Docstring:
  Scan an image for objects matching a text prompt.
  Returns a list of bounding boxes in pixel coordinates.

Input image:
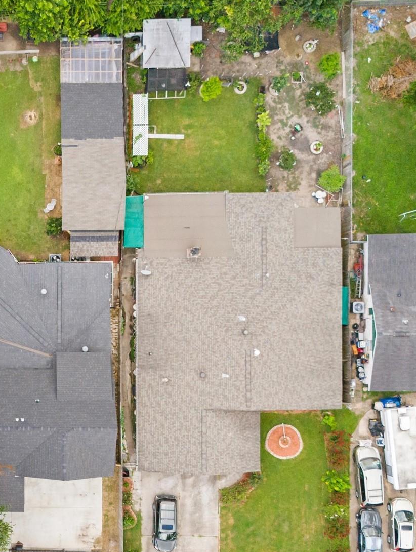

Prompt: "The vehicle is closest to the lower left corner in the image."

[151,493,179,551]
